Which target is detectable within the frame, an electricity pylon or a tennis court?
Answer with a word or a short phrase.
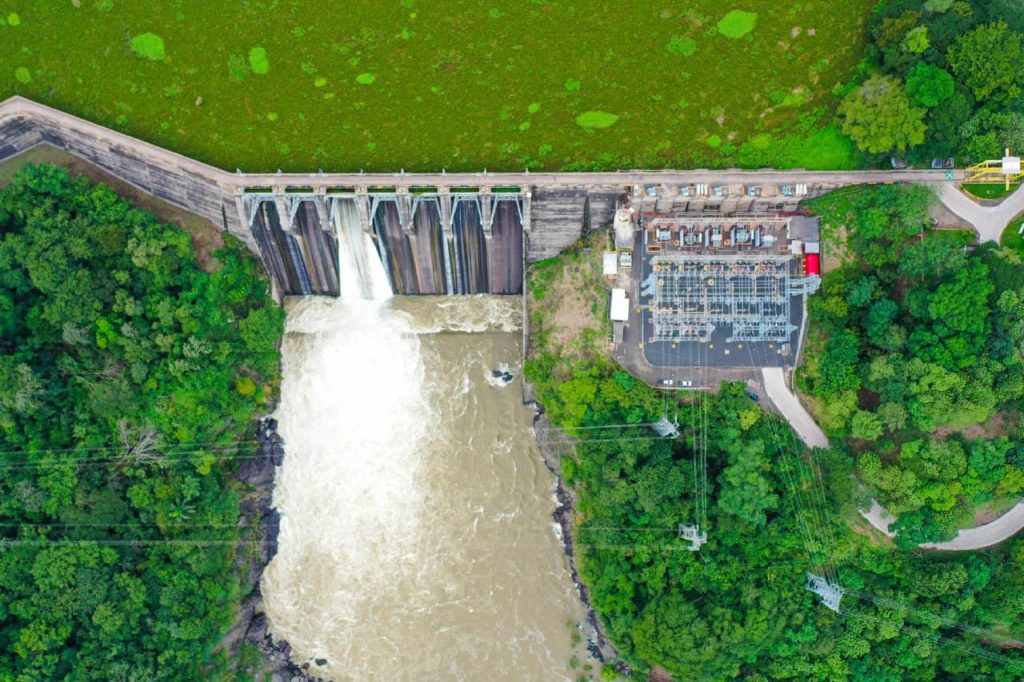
electricity pylon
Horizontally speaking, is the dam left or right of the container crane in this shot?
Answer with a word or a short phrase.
left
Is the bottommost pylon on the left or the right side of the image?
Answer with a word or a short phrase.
right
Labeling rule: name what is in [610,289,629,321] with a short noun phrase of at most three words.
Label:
building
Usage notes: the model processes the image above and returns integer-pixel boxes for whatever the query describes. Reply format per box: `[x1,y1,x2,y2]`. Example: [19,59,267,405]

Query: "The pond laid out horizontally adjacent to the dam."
[0,0,868,197]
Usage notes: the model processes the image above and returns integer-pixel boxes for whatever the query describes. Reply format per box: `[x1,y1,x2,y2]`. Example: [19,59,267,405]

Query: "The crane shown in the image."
[963,148,1024,190]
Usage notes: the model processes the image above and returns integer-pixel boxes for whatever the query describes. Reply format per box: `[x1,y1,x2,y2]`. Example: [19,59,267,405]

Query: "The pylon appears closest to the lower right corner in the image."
[803,568,851,610]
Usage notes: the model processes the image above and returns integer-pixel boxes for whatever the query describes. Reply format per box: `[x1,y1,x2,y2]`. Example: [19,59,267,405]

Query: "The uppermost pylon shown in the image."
[647,416,677,447]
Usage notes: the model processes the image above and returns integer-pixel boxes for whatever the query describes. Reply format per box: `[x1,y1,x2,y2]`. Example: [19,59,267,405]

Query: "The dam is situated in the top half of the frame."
[0,95,959,410]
